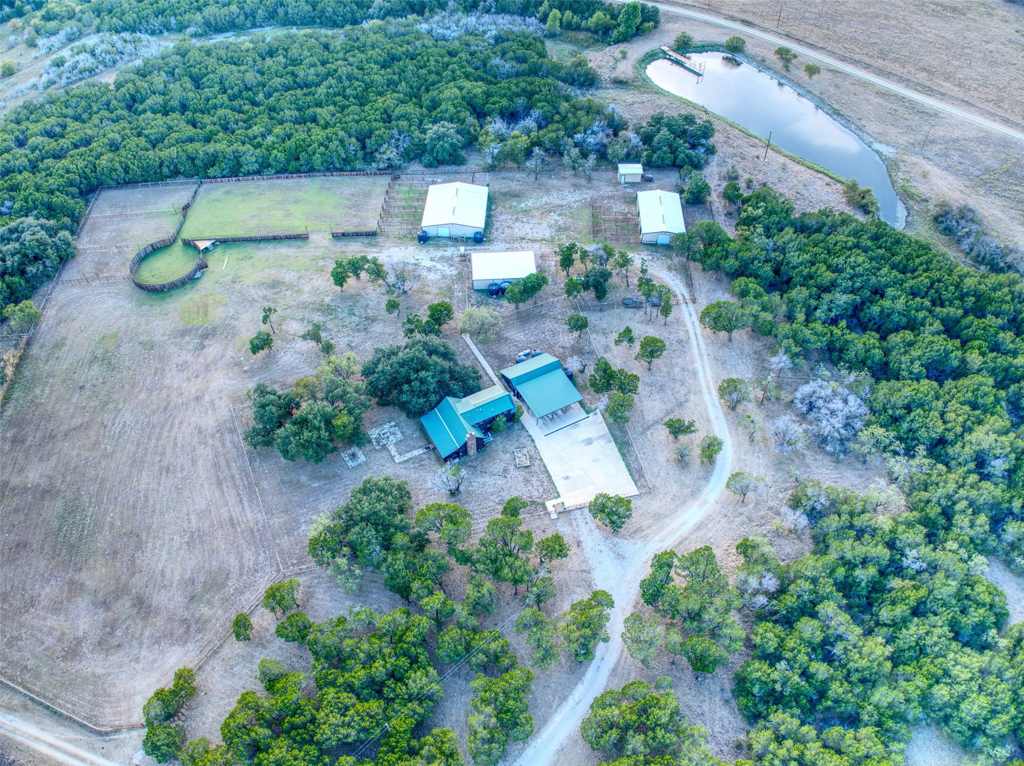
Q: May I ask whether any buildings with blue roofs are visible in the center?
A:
Yes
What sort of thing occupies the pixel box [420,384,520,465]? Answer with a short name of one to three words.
house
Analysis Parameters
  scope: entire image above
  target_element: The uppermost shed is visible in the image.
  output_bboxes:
[618,164,643,184]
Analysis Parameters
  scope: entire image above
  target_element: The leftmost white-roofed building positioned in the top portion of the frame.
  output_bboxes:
[423,181,487,237]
